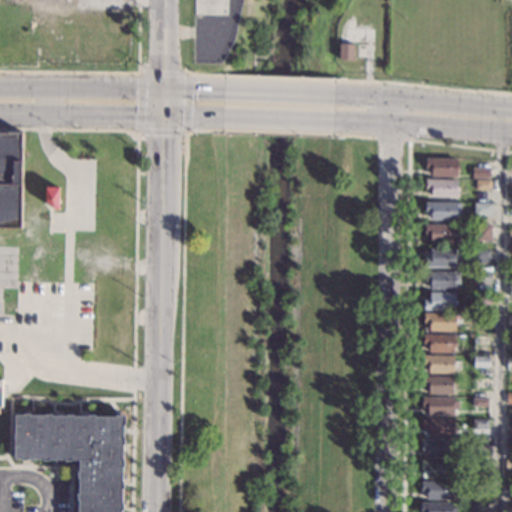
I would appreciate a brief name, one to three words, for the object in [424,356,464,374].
house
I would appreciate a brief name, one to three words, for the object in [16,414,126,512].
building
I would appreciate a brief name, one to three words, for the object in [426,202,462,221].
house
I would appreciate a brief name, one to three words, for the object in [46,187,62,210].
building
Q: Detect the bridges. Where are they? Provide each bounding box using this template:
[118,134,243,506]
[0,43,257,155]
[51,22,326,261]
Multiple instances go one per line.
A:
[225,70,335,139]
